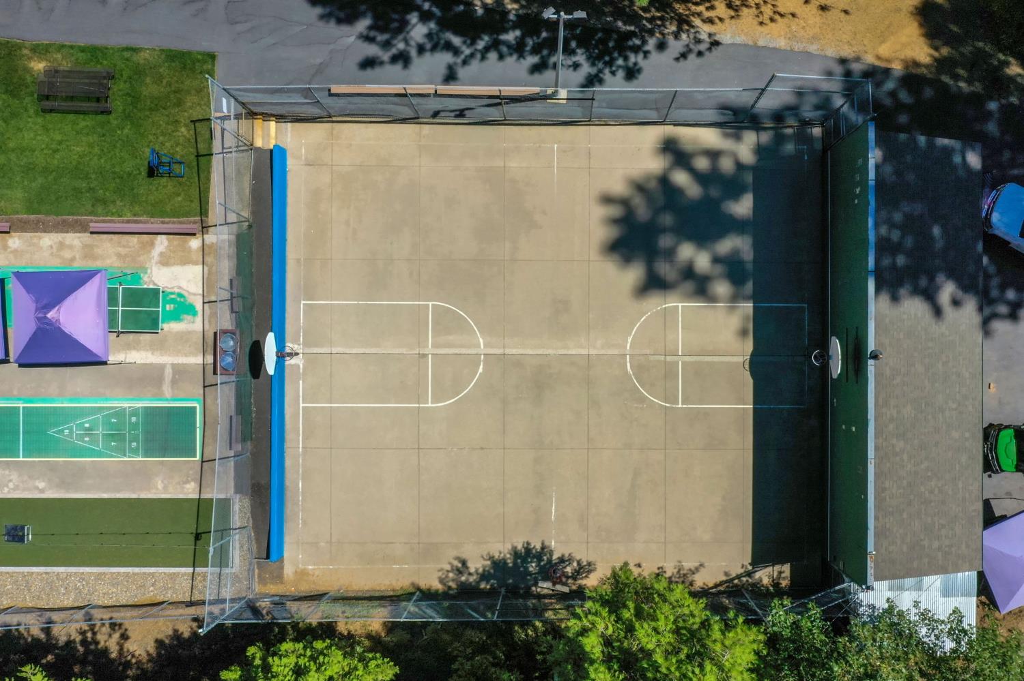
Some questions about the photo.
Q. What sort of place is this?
sports ground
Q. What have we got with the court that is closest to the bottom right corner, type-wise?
basketball court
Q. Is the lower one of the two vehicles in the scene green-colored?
Yes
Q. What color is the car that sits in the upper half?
blue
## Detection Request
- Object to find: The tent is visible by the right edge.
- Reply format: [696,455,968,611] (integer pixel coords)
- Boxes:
[976,512,1024,613]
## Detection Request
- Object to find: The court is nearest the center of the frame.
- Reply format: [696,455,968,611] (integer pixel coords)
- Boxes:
[258,122,830,600]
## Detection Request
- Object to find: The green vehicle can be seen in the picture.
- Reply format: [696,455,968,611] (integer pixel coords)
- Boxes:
[983,420,1024,479]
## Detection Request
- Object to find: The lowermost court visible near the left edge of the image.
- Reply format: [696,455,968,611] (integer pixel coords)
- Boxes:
[0,499,232,568]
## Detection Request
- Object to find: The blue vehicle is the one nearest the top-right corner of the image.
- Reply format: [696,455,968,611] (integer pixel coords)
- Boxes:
[983,186,1024,256]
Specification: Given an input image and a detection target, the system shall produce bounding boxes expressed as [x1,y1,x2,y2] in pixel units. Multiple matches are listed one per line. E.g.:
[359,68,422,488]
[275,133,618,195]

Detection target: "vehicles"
[983,186,1024,256]
[983,420,1024,479]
